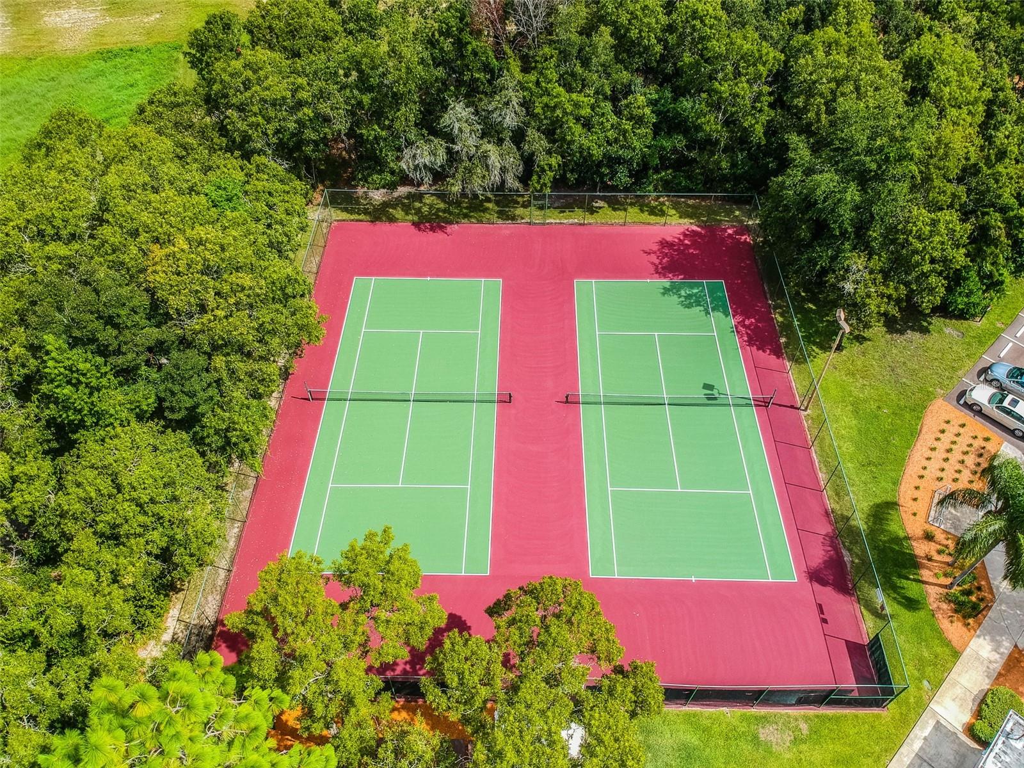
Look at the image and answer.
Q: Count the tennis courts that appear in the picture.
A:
two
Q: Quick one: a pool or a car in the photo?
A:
car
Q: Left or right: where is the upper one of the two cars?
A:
right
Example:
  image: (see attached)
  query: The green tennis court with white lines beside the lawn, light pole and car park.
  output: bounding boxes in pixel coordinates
[538,225,895,713]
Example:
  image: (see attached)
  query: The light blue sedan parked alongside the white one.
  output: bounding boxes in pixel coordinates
[985,361,1024,399]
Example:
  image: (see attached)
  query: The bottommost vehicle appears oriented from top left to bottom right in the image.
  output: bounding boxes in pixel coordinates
[965,385,1024,437]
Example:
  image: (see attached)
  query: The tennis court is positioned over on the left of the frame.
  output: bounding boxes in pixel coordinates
[206,224,539,705]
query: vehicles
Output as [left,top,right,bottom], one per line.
[985,361,1024,399]
[965,385,1024,437]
